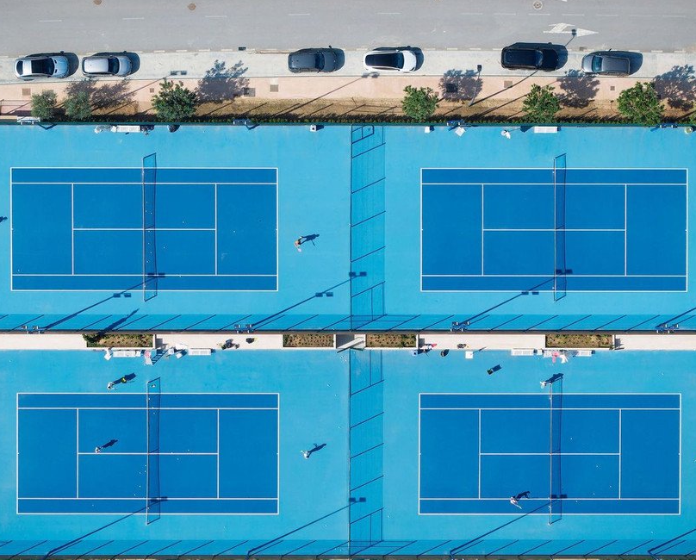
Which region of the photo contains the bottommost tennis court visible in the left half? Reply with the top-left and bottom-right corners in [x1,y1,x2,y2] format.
[0,350,349,555]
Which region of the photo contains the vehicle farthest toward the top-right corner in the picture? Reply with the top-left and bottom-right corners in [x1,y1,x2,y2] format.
[582,50,632,74]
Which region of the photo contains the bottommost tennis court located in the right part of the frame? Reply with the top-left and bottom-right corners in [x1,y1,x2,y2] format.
[349,350,696,555]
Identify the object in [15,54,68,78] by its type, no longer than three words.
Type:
car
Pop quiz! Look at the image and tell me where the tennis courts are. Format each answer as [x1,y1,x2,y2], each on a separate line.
[0,124,351,331]
[0,350,349,555]
[349,350,696,555]
[352,124,696,331]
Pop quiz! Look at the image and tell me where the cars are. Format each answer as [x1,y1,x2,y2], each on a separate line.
[582,50,632,74]
[288,46,336,72]
[15,54,68,78]
[502,43,558,70]
[364,47,416,72]
[83,52,128,76]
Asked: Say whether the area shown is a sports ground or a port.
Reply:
sports ground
